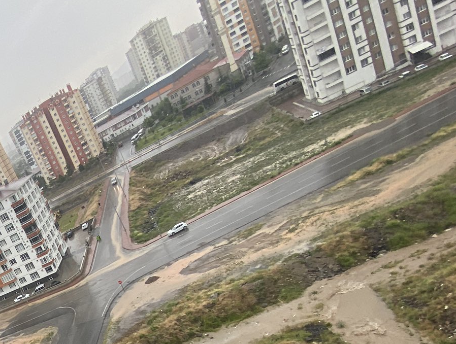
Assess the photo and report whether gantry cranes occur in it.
No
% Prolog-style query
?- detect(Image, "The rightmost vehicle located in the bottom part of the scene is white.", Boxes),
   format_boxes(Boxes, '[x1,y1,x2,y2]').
[167,221,187,234]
